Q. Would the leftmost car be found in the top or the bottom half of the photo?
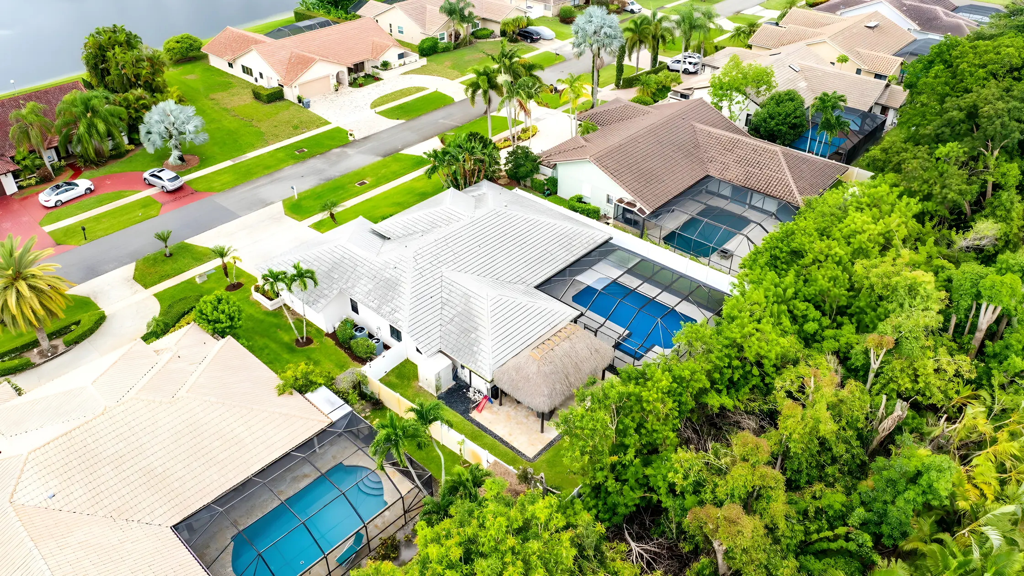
top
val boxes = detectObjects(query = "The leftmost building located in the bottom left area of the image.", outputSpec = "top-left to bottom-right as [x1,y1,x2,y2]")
[0,322,332,576]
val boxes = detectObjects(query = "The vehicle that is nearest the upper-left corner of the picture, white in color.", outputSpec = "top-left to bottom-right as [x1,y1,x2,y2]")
[36,181,92,205]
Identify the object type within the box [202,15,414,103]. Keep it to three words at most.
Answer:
house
